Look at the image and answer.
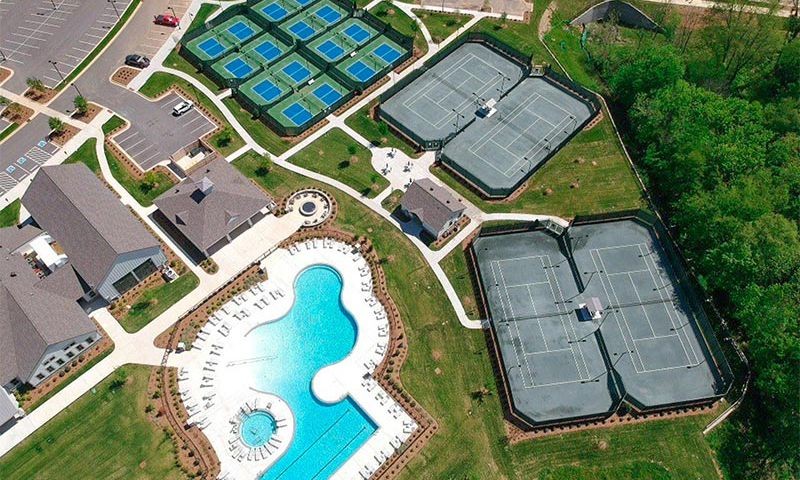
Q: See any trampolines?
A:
No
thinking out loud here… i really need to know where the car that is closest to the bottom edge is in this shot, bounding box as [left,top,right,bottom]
[170,99,194,114]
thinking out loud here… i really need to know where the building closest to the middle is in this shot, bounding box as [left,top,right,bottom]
[399,178,466,238]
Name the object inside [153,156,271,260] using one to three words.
building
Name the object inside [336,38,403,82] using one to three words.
sports court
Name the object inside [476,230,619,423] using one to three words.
tennis court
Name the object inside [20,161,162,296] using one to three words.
building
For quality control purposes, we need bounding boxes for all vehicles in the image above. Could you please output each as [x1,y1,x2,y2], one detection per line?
[153,13,178,24]
[125,55,148,66]
[170,99,194,114]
